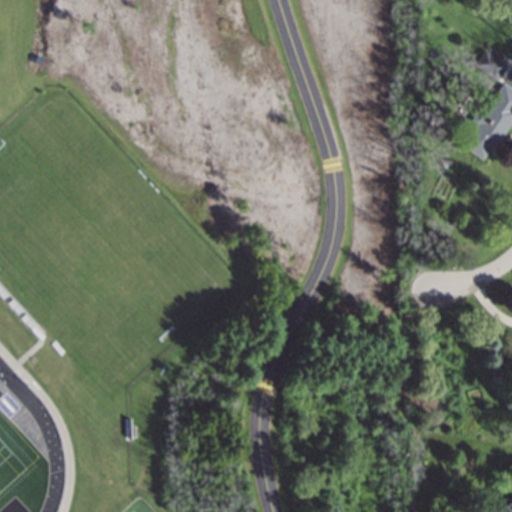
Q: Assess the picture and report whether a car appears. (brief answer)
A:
No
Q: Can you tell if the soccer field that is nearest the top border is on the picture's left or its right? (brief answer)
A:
left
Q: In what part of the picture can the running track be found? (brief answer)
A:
bottom left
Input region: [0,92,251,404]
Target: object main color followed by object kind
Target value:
green soccer field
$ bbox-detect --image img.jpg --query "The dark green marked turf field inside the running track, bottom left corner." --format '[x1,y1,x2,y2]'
[0,416,50,512]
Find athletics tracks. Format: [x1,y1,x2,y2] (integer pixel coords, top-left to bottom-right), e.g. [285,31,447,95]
[0,344,73,512]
